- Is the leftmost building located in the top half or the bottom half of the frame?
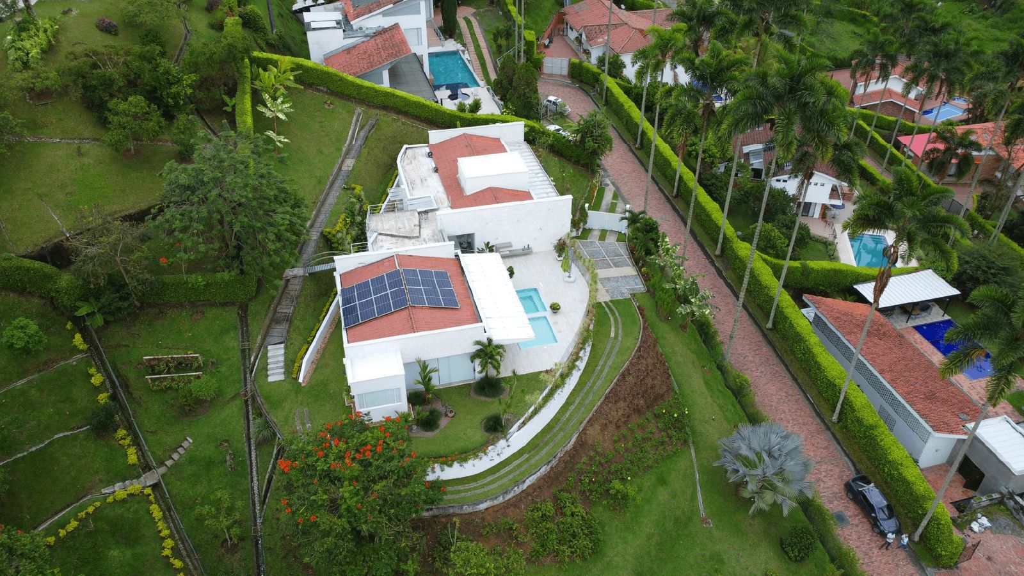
top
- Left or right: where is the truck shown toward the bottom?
right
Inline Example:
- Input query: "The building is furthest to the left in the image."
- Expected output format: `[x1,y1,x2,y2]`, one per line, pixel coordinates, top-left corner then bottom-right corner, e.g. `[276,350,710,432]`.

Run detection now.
[302,0,445,113]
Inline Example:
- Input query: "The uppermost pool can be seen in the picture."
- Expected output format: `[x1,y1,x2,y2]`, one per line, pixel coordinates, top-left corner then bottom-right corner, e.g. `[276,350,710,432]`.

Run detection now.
[430,49,482,89]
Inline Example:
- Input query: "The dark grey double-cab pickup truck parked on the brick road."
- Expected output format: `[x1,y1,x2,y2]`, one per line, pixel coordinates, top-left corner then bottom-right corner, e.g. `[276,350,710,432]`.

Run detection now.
[843,468,907,541]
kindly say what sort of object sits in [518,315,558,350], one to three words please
swimming pool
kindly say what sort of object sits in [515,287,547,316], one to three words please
swimming pool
